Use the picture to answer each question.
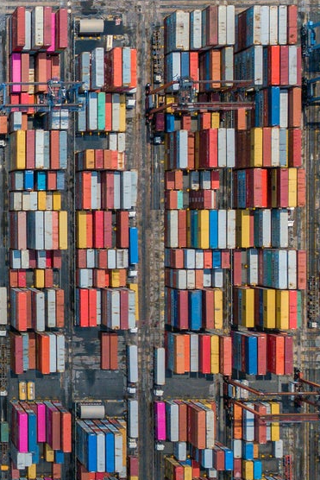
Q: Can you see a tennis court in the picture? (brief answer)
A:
No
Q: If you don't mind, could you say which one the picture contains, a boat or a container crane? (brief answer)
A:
container crane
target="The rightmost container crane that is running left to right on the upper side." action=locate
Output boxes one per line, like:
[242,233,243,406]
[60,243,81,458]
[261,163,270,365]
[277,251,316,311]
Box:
[146,79,252,119]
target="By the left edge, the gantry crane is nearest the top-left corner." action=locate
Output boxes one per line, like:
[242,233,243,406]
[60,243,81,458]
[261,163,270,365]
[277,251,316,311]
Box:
[0,80,82,111]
